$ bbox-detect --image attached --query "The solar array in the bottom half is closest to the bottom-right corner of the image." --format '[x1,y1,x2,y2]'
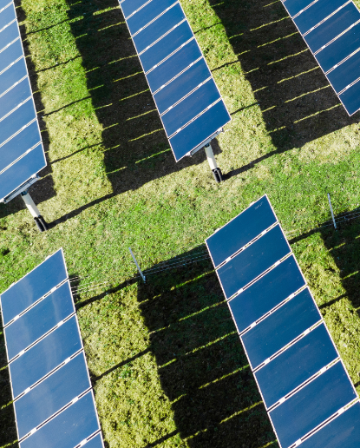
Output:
[206,194,360,448]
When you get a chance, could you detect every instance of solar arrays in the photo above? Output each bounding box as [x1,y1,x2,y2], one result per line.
[0,0,50,235]
[119,0,232,188]
[206,194,360,448]
[282,0,360,116]
[0,248,104,448]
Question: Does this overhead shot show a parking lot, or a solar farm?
solar farm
